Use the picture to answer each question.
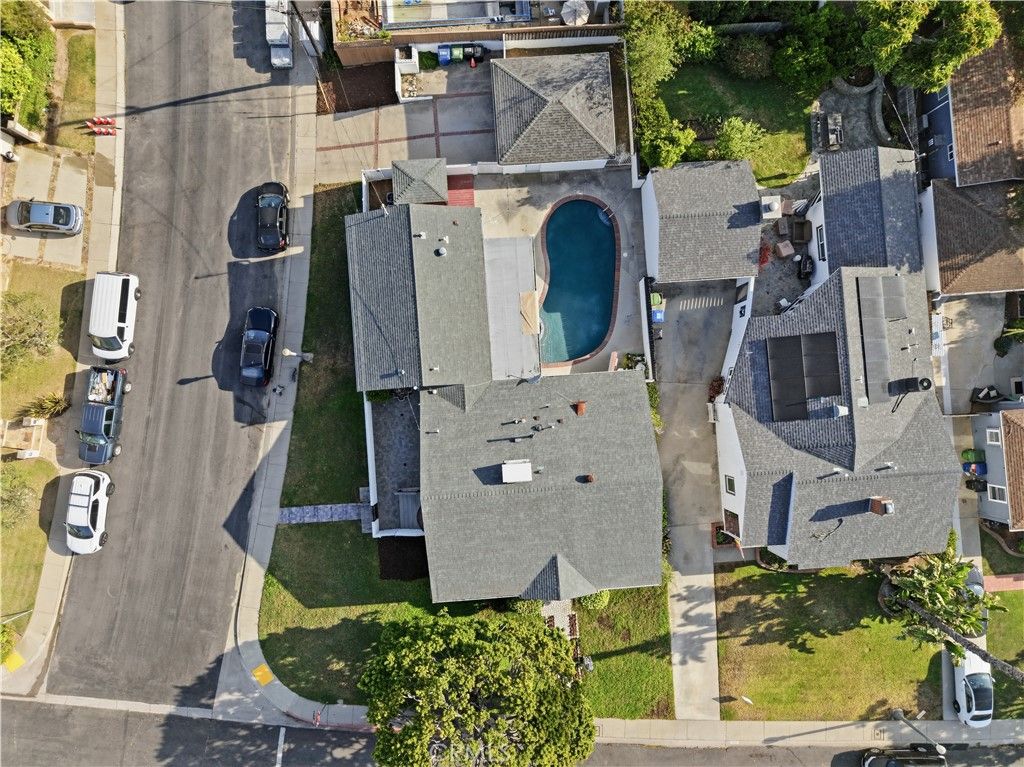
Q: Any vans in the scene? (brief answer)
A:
Yes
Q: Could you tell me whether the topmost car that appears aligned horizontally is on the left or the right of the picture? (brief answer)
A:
left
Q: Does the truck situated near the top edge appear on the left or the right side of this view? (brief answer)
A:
left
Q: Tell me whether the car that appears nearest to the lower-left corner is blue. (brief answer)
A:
No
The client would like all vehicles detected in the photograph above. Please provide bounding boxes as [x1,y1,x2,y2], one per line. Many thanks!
[7,196,85,232]
[90,271,142,363]
[241,305,281,387]
[860,747,946,767]
[258,0,296,70]
[255,182,293,254]
[82,367,133,467]
[65,471,115,556]
[951,643,993,727]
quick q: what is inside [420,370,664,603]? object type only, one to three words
house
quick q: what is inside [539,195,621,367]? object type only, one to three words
swimming pool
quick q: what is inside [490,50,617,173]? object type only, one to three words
building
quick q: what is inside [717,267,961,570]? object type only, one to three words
house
